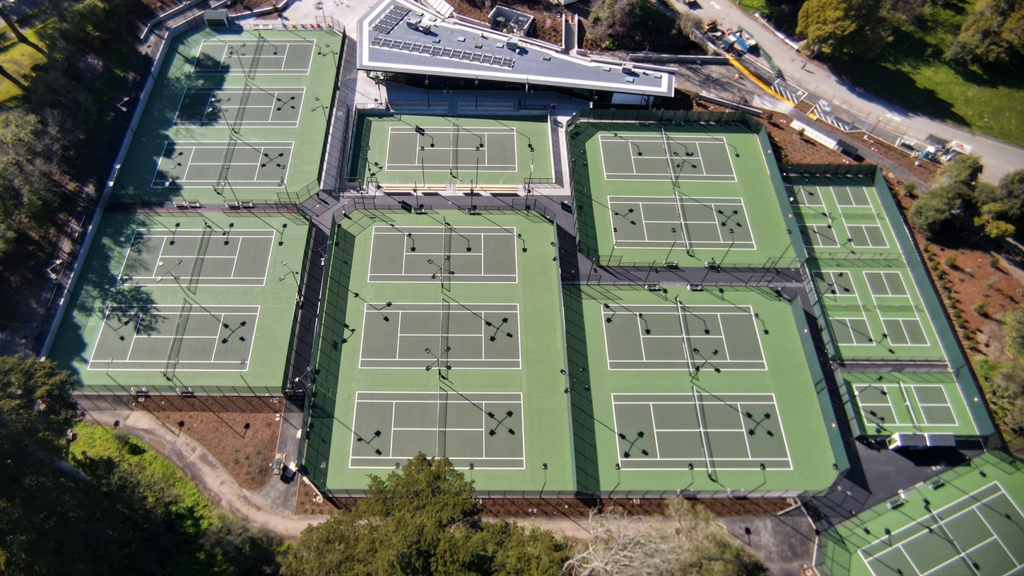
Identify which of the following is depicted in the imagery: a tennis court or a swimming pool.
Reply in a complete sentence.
Looking from above, you can make out a tennis court.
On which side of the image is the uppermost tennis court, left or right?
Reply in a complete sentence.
The uppermost tennis court appears in the left half of the scene.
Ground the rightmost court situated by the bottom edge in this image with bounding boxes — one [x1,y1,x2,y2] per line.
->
[857,480,1024,576]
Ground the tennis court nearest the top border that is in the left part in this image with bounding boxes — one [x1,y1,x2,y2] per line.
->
[191,38,316,75]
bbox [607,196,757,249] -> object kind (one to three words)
tennis court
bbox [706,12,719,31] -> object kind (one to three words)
vehicle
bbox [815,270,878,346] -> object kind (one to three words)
sports court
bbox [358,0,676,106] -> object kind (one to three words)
building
